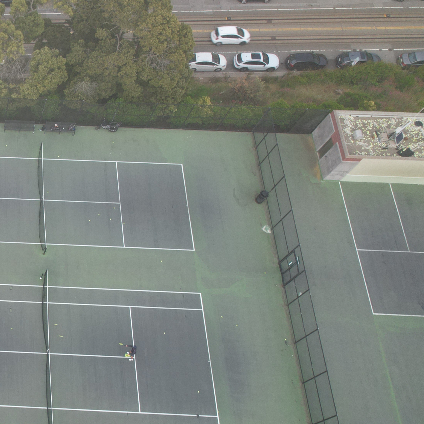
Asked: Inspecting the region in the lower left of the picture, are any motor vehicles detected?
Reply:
No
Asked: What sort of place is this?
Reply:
sports ground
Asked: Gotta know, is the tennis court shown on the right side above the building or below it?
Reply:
below it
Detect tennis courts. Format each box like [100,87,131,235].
[340,182,424,318]
[0,284,219,424]
[0,157,195,251]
